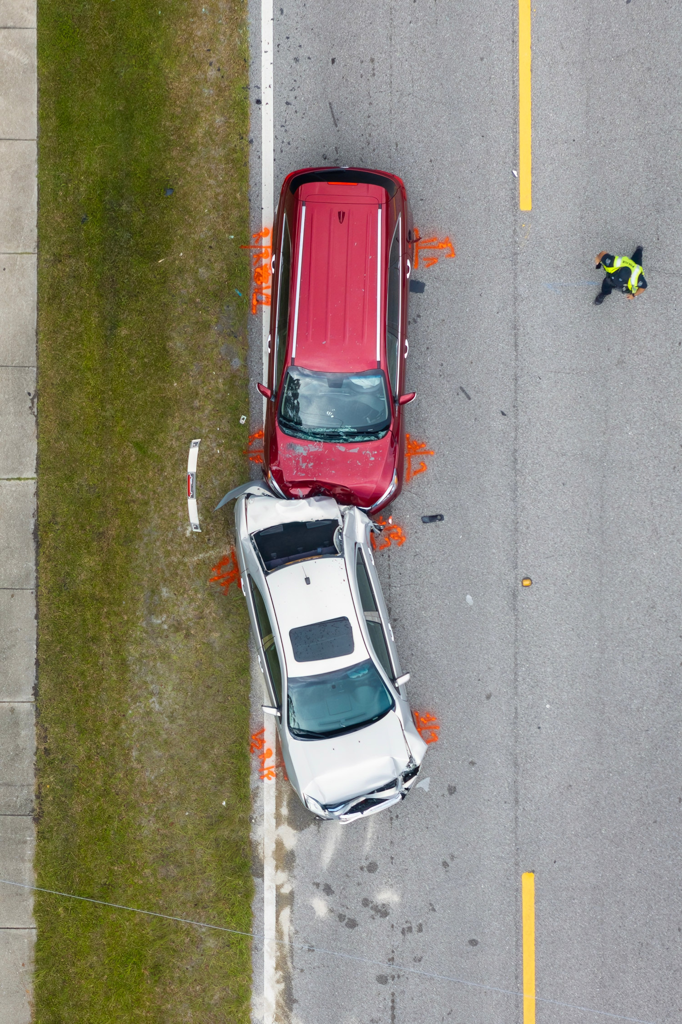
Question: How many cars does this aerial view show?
2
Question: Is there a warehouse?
No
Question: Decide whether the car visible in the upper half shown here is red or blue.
red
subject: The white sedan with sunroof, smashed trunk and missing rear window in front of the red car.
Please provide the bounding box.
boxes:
[213,477,428,824]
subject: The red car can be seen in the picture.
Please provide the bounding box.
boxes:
[254,165,416,515]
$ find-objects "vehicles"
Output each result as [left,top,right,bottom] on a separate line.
[213,477,428,824]
[254,165,416,515]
